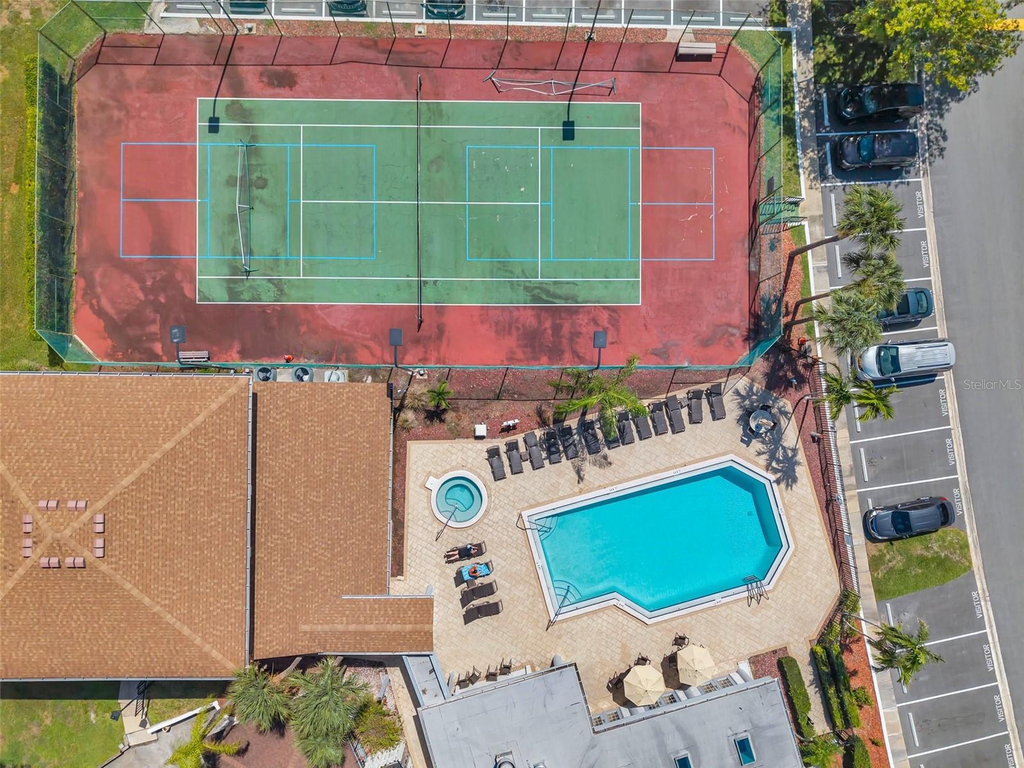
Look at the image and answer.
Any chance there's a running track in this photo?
No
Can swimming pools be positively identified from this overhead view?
Yes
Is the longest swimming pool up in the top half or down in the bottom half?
bottom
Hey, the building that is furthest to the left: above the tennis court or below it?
below it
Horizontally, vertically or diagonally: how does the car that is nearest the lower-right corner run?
horizontally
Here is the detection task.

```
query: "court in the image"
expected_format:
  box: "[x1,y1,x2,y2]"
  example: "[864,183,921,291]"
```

[75,33,760,366]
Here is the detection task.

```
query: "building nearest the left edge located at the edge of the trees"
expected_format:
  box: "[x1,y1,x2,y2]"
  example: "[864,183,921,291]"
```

[0,371,254,681]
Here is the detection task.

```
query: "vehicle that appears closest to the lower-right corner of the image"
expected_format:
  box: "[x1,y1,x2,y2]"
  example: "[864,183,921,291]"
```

[858,497,954,547]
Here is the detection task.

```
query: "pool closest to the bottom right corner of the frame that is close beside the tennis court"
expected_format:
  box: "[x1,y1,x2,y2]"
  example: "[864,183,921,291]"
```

[517,455,794,628]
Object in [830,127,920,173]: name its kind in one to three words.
car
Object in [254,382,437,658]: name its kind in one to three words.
building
